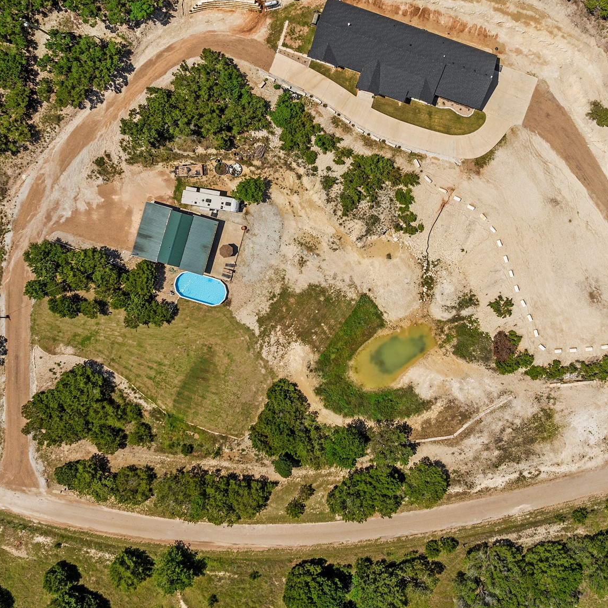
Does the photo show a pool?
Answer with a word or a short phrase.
Yes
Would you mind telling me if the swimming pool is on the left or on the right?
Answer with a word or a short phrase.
left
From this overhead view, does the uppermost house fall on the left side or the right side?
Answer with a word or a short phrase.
right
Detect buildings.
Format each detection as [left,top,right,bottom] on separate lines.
[132,202,219,276]
[308,0,497,109]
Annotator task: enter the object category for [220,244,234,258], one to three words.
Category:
umbrella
